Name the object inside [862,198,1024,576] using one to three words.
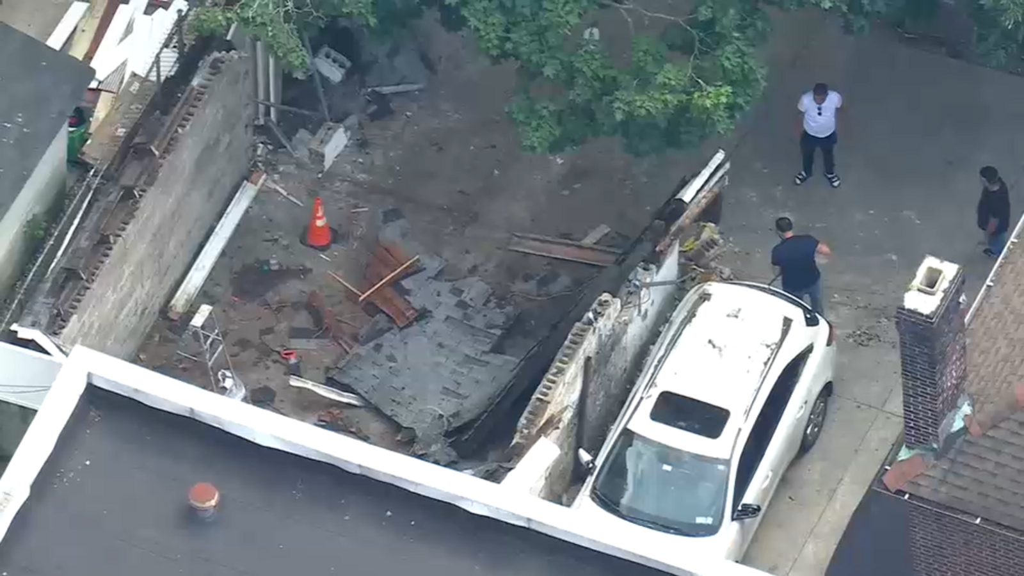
house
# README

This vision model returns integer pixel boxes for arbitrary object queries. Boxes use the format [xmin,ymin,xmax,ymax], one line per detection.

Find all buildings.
[0,347,754,576]
[0,42,98,326]
[862,198,1024,576]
